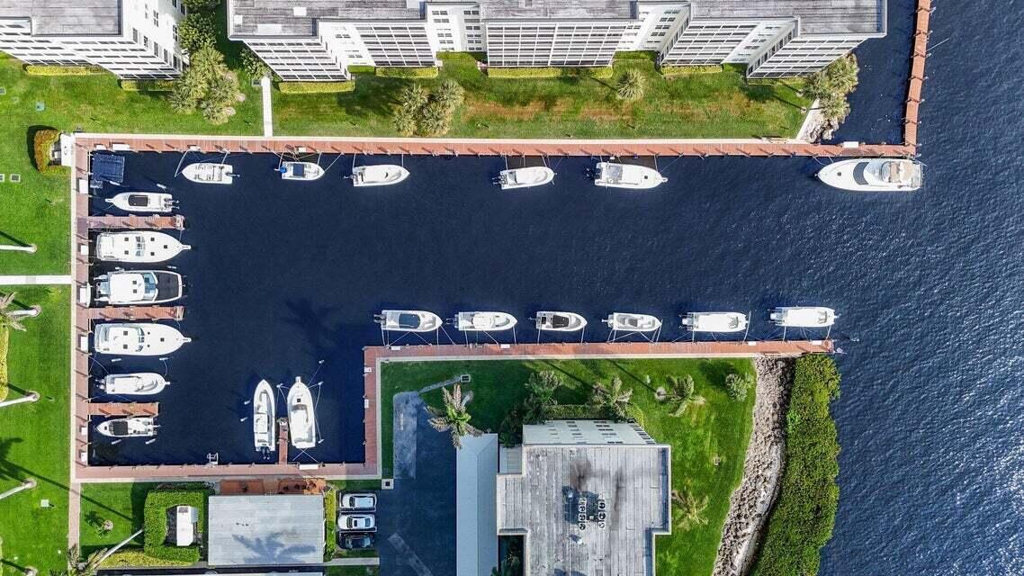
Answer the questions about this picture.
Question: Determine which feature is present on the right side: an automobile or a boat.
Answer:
boat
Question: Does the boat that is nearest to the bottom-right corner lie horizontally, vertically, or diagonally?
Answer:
horizontally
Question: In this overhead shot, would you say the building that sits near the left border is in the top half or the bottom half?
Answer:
top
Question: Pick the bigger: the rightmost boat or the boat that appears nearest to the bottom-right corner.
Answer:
the rightmost boat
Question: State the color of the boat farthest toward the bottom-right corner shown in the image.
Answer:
white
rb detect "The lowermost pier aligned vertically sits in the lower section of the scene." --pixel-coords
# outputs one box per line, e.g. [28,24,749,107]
[274,418,290,464]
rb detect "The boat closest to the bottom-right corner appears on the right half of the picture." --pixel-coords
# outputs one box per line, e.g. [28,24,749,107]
[761,307,840,339]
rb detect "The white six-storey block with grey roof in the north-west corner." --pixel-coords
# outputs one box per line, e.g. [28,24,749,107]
[0,0,182,78]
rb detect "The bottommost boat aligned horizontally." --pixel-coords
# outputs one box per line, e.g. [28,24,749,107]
[90,417,168,436]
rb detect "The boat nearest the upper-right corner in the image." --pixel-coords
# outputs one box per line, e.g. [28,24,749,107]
[816,156,924,191]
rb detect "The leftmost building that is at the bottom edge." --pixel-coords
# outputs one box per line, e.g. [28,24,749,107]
[208,495,326,565]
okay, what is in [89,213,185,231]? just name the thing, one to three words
pier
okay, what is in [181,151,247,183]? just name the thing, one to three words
boat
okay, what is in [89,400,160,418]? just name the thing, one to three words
pier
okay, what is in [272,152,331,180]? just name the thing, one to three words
boat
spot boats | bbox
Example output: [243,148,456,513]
[525,312,587,331]
[87,281,92,308]
[279,363,321,461]
[341,154,410,186]
[446,311,517,344]
[675,311,763,341]
[272,152,331,180]
[600,312,663,343]
[816,156,924,191]
[99,192,188,216]
[252,379,275,463]
[761,307,840,339]
[97,270,189,304]
[181,151,247,183]
[488,154,559,189]
[583,155,679,188]
[90,228,188,262]
[88,317,188,371]
[90,357,170,402]
[90,417,168,436]
[369,310,453,347]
